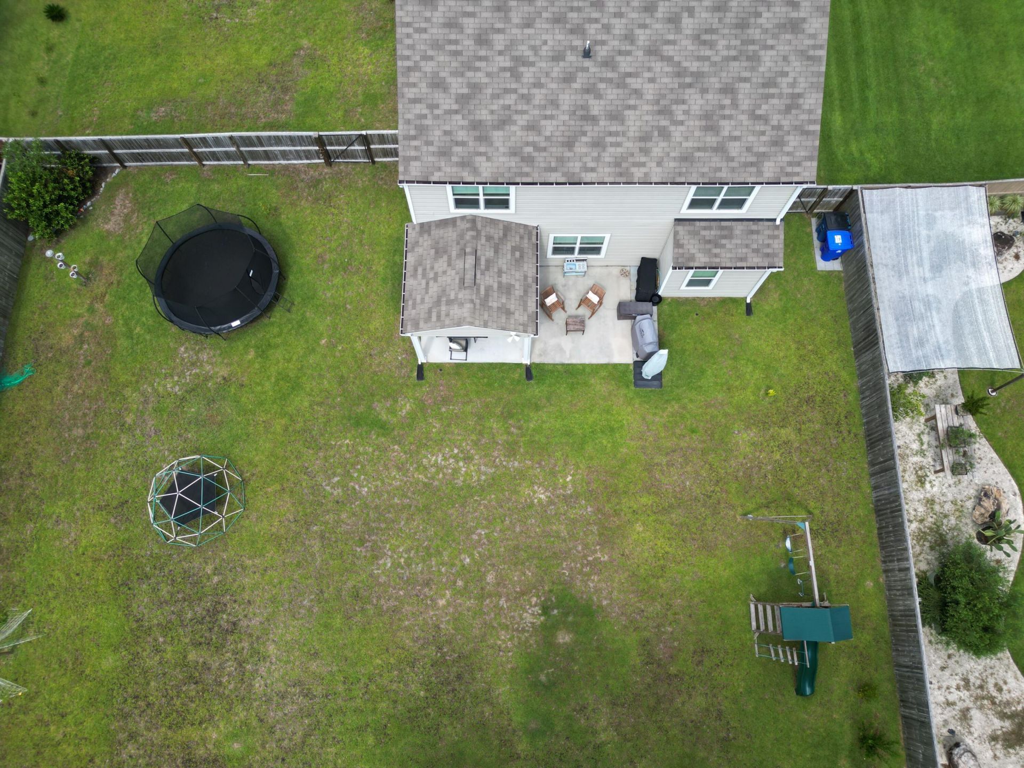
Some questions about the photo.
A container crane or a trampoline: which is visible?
trampoline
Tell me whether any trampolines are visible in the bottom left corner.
No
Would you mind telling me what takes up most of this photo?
grass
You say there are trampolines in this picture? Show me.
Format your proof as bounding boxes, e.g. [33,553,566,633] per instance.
[134,201,292,345]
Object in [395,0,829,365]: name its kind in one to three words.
house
